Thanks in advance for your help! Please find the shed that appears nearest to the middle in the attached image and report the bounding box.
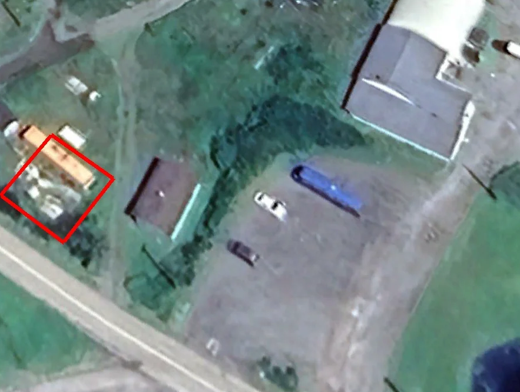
[127,158,205,241]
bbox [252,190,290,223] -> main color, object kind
white car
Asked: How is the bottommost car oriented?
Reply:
on a diagonal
